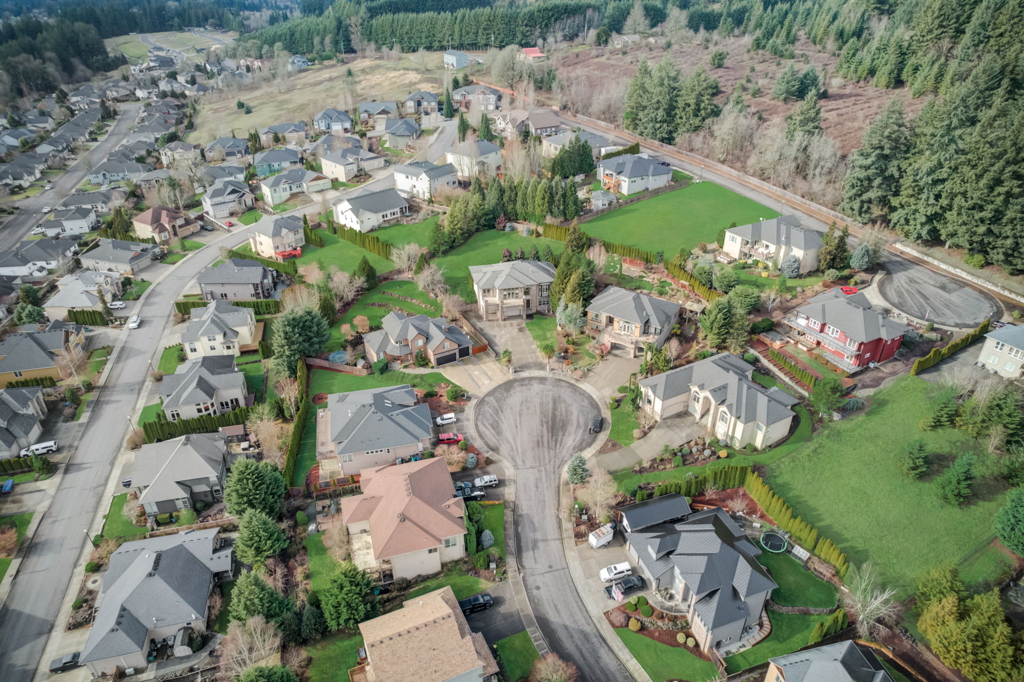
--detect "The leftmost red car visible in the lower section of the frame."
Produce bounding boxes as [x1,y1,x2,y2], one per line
[438,429,464,443]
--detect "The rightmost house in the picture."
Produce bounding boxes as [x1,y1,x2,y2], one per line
[978,318,1024,381]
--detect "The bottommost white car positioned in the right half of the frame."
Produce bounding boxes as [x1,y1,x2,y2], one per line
[599,559,634,581]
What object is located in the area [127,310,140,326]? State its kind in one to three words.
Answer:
vehicle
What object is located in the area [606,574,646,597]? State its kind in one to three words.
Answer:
truck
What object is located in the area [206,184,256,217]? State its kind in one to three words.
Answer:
house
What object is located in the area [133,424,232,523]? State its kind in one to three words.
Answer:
house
